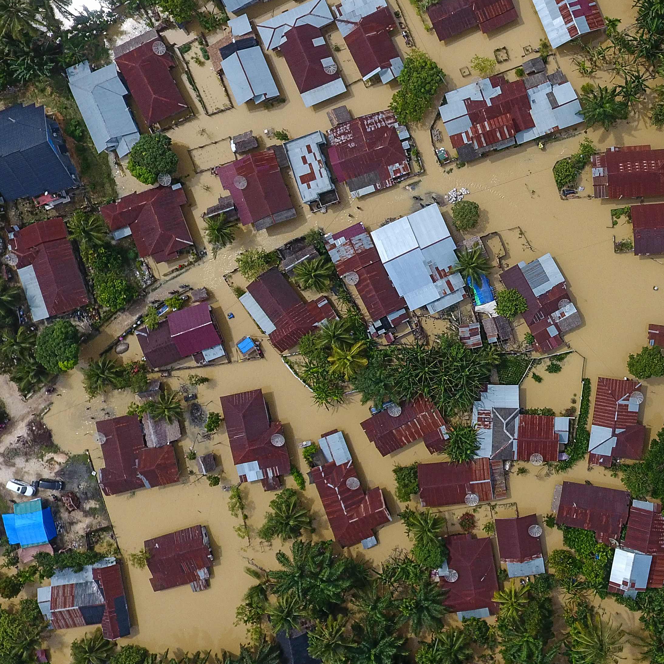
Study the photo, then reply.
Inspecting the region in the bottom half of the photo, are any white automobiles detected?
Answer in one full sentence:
Yes, a white automobile is visible in the bottom half of the photo.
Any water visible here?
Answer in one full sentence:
Yes, the picture does contain water.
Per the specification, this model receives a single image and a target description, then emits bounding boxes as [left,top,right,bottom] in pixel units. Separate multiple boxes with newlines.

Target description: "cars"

[31,478,63,494]
[1,478,34,498]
